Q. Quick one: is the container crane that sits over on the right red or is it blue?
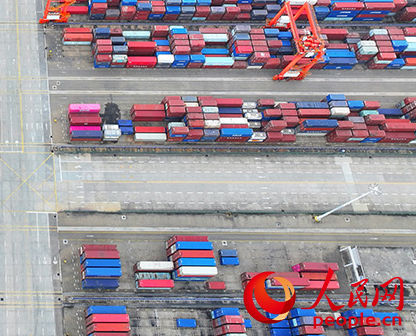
red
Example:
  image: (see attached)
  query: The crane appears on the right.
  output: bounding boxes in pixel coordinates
[262,0,329,77]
